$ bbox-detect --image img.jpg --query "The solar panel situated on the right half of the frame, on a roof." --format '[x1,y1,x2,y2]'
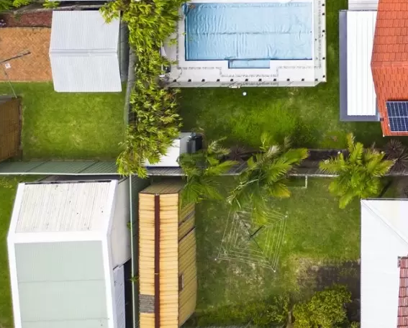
[388,103,408,135]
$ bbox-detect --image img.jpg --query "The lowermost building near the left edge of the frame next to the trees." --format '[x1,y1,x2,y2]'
[4,168,142,328]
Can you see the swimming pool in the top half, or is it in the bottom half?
top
